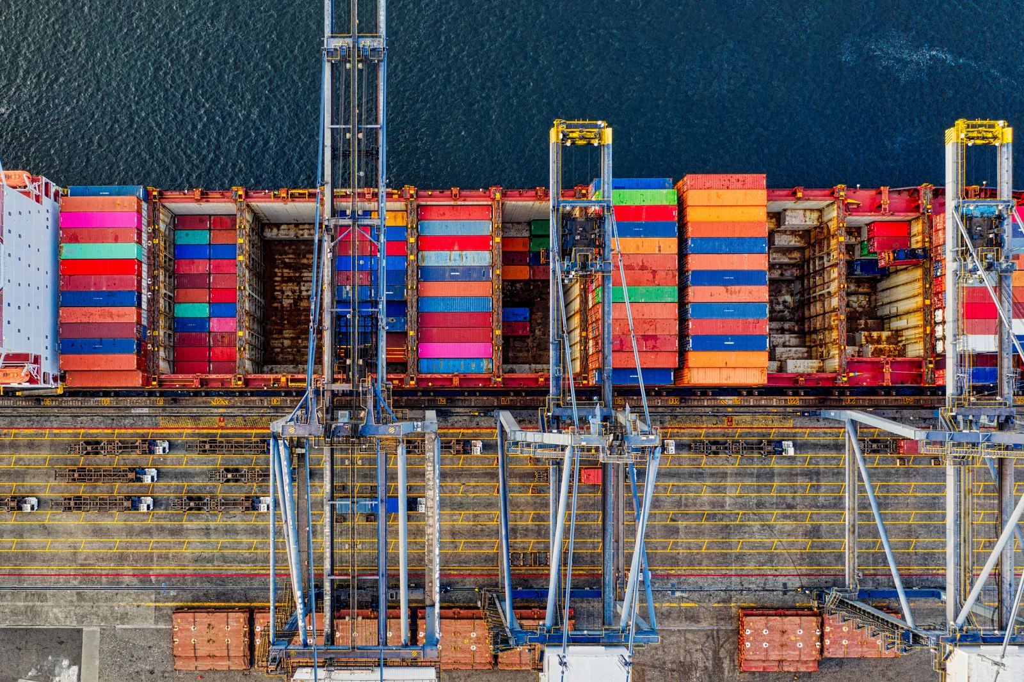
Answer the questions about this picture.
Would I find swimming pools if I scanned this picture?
No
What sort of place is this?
port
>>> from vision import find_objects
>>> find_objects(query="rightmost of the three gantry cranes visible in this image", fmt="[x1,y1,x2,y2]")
[797,116,1024,682]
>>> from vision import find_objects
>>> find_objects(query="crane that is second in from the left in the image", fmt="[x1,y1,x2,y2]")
[469,116,669,682]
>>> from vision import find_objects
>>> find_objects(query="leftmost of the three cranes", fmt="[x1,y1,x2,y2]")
[251,0,456,682]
